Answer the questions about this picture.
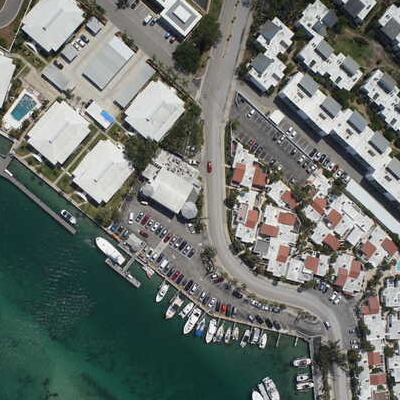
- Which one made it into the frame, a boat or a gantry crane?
boat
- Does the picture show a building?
Yes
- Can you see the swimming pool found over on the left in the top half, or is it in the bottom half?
top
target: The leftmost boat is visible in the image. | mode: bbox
[62,211,77,223]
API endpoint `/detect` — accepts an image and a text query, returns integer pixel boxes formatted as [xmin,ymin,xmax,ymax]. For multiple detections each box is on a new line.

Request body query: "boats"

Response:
[293,358,314,367]
[297,375,312,382]
[225,327,232,345]
[260,333,268,351]
[157,282,170,301]
[297,382,316,389]
[62,211,77,223]
[215,323,225,344]
[185,307,203,335]
[207,317,218,344]
[196,319,206,338]
[166,293,184,319]
[180,303,193,319]
[252,327,261,345]
[234,327,240,342]
[241,329,251,349]
[263,376,280,400]
[142,265,151,277]
[96,237,126,267]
